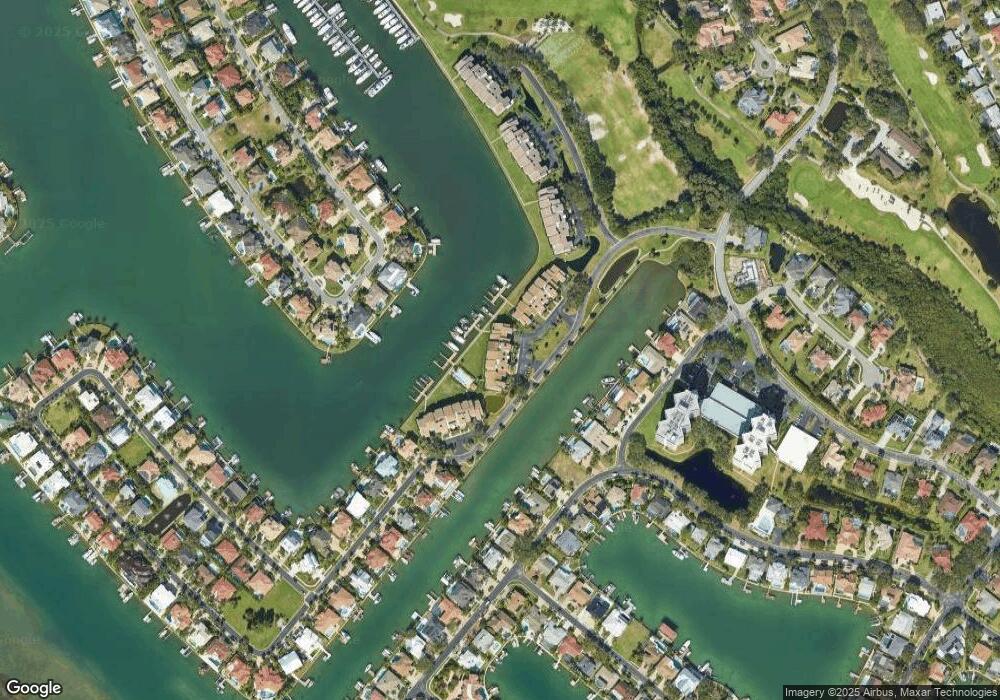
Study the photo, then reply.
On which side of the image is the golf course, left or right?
right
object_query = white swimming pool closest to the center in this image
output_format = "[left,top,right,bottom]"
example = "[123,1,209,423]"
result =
[450,363,476,388]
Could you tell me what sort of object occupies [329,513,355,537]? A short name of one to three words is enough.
house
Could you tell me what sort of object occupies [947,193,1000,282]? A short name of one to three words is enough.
pond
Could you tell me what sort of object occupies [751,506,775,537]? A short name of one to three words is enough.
swimming pool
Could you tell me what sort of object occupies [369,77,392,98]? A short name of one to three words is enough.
boat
